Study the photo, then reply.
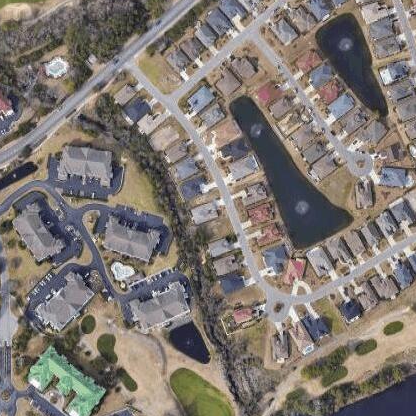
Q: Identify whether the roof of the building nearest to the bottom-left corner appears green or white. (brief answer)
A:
green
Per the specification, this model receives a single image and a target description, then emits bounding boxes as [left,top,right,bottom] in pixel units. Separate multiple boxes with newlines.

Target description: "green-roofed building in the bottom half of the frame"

[29,347,104,416]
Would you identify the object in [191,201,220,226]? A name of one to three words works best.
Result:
house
